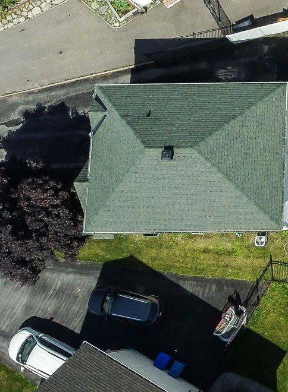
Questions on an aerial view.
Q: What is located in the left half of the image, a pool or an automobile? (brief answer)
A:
automobile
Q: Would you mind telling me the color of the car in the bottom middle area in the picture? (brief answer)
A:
black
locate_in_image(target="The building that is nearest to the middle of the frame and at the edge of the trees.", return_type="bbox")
[74,81,288,245]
